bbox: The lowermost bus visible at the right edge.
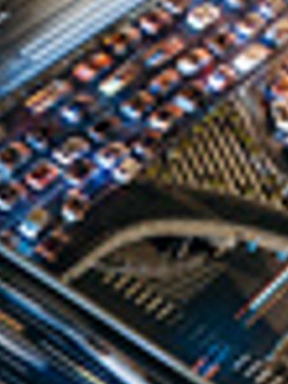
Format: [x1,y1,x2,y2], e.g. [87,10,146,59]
[222,250,288,332]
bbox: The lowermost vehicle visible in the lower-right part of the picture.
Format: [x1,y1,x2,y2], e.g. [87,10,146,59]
[192,347,227,376]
